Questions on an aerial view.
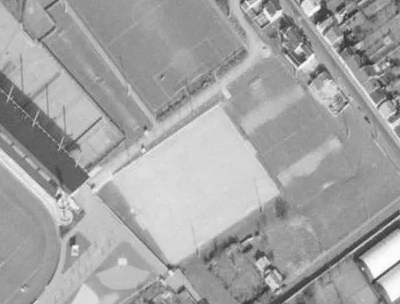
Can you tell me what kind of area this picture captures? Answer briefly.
sports ground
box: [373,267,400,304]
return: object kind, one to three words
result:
shed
